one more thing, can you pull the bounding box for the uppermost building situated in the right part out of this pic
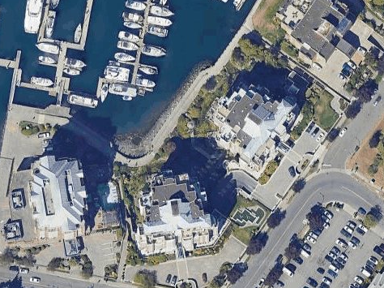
[275,0,356,70]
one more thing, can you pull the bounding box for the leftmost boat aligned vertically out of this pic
[23,0,41,37]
